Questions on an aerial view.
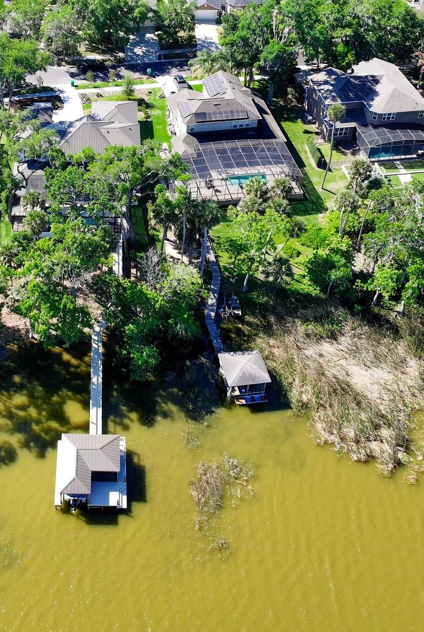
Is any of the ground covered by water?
Yes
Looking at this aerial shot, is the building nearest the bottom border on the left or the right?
left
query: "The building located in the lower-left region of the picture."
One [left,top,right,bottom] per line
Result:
[54,431,128,511]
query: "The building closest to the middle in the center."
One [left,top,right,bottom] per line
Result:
[216,348,271,404]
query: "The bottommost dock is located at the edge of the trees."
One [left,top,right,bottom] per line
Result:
[88,323,107,435]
